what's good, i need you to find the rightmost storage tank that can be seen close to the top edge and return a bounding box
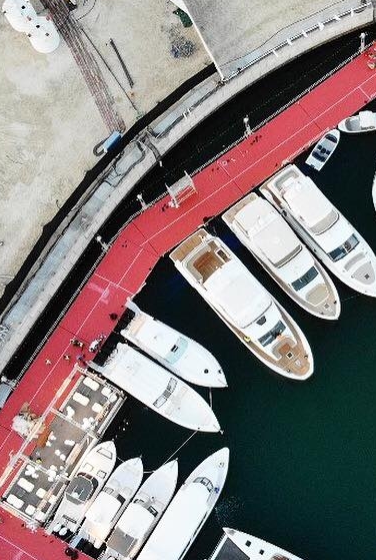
[30,19,65,58]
